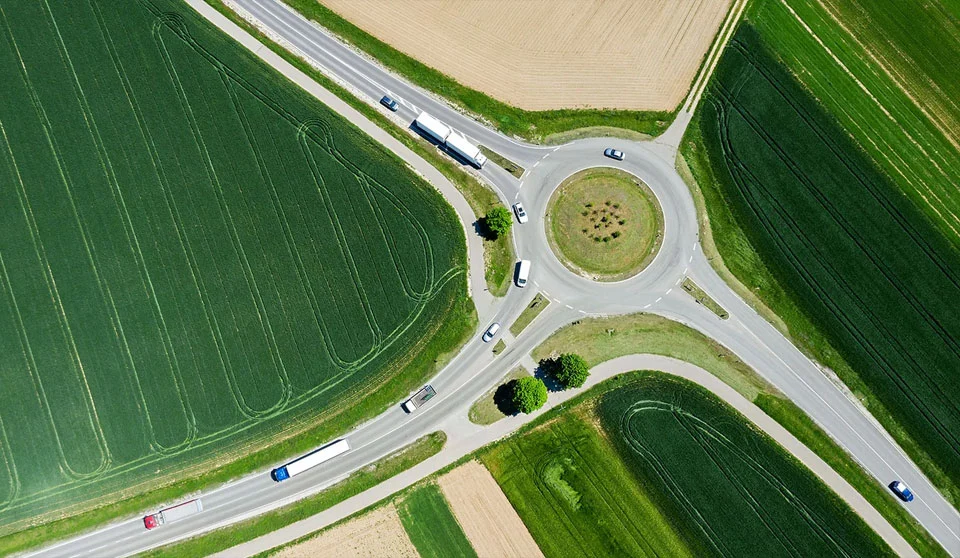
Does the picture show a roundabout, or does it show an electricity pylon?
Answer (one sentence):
I can see a roundabout in this picture.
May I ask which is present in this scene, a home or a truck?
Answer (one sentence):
The one in the frame is a truck.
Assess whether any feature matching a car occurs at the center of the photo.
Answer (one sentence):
Yes, at the center of the photo there is a car.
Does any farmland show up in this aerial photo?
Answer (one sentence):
Yes, farmland shows up in the scene.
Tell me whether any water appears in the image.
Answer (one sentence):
No, there is no water in the image.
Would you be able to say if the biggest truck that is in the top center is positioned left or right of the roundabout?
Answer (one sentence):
Relative to the roundabout, the biggest truck that is in the top center is on the left.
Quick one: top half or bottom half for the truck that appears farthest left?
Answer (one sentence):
It is in the bottom half that the truck that appears farthest left appears.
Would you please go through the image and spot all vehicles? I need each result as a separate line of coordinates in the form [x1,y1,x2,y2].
[143,497,206,529]
[276,436,352,480]
[382,96,399,112]
[416,111,488,170]
[892,481,913,501]
[483,323,500,342]
[514,203,528,223]
[404,385,437,414]
[518,261,530,287]
[604,148,625,159]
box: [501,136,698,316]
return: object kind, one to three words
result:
roundabout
